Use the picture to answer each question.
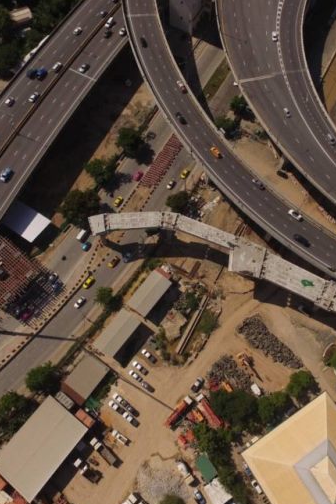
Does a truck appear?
Yes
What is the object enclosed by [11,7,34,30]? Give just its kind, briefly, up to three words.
shed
